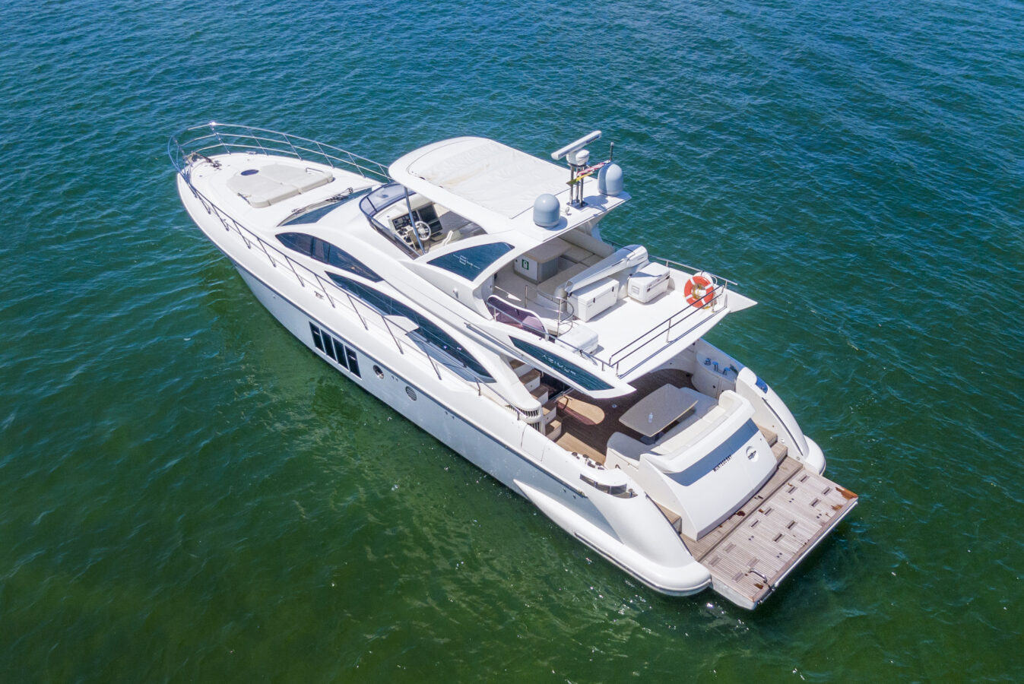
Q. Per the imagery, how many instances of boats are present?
1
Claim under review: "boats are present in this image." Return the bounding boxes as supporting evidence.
[172,123,859,608]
